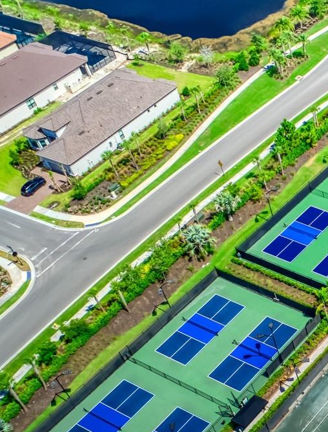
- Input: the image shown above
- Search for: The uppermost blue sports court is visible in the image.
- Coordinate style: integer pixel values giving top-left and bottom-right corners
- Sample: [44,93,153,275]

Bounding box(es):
[262,206,328,261]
